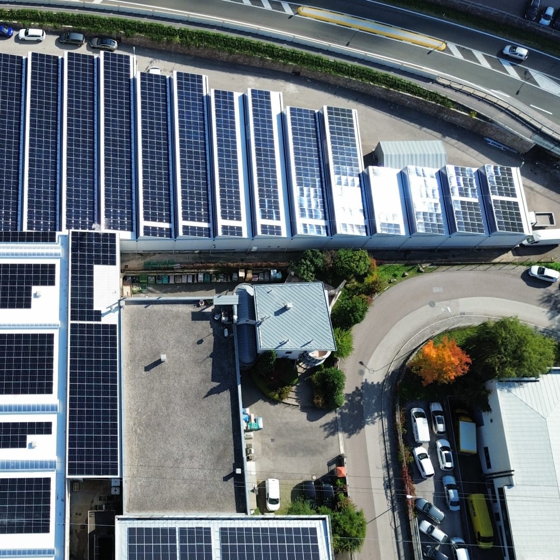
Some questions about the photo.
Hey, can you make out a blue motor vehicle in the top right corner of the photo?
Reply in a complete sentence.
Yes, a blue motor vehicle is visible in the top right corner of the photo.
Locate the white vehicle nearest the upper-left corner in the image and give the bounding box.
[17,25,48,42]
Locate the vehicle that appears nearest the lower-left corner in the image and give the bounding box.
[264,474,283,516]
